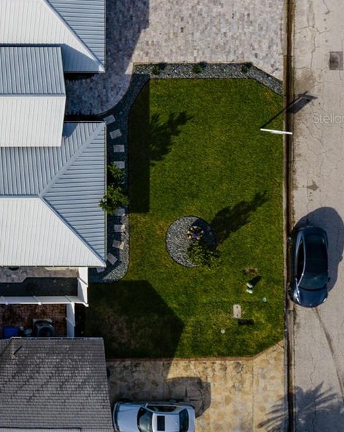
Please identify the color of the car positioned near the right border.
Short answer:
black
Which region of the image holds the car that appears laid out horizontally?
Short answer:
bottom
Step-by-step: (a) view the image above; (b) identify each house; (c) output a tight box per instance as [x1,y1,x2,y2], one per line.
[0,0,108,269]
[0,332,113,432]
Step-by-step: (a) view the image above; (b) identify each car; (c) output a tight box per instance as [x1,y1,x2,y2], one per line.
[293,225,337,307]
[111,397,195,432]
